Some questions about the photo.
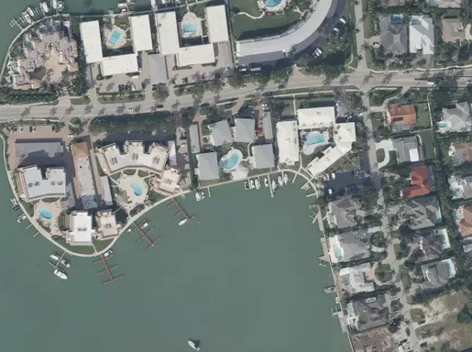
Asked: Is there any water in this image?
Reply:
Yes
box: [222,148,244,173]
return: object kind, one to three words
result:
swimming pool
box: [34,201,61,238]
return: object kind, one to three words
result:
swimming pool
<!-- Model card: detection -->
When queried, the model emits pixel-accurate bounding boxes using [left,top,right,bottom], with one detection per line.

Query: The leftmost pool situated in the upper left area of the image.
[104,26,127,48]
